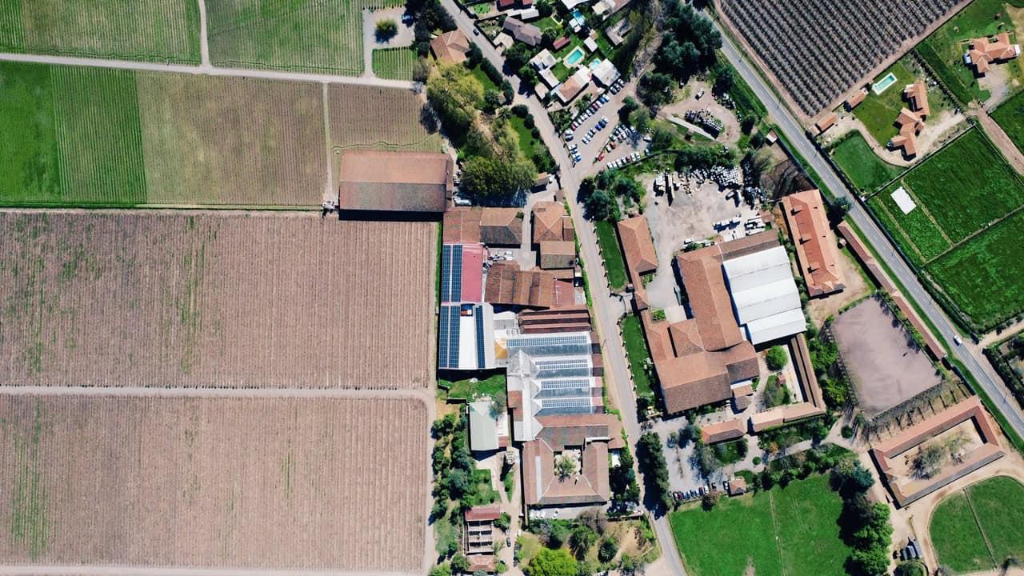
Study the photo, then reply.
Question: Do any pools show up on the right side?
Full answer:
Yes, there is a pool on the right side.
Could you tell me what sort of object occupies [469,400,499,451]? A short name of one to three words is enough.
barn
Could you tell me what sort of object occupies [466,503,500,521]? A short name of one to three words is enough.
shed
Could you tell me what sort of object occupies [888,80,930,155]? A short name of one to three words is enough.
house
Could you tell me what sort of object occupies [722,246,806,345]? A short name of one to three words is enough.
building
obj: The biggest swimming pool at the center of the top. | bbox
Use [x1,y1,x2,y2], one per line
[563,47,585,67]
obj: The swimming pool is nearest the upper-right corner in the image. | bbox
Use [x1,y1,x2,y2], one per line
[871,73,897,95]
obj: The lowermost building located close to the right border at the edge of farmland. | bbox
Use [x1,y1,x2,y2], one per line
[869,396,1006,507]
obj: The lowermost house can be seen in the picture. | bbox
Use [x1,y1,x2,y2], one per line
[466,553,495,571]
